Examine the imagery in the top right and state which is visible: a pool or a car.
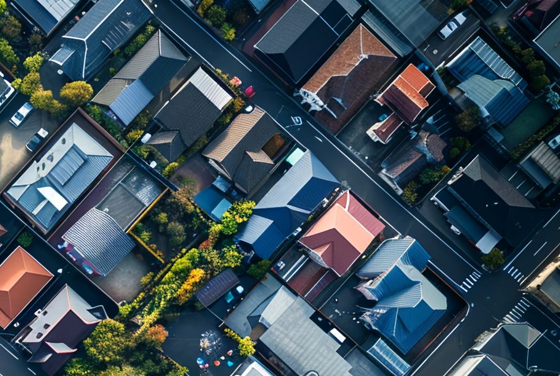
car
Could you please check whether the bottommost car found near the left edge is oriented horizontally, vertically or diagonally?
diagonally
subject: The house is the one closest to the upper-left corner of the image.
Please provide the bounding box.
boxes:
[11,0,81,36]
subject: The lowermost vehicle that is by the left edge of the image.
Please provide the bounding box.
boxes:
[25,125,49,153]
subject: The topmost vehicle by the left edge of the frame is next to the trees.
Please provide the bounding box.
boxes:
[8,101,33,129]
